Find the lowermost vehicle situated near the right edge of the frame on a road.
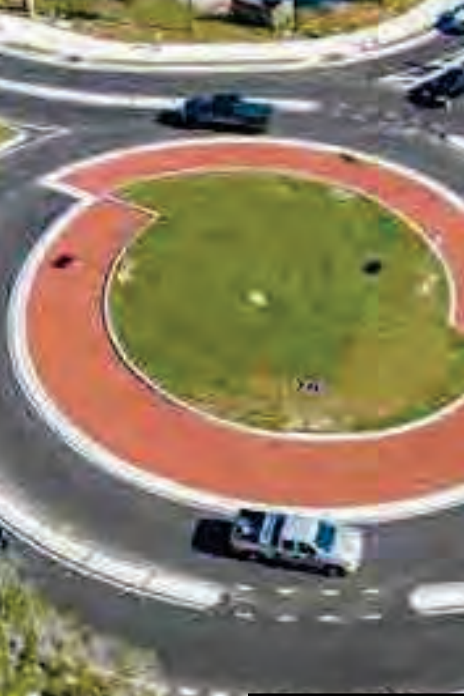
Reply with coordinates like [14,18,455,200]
[409,62,464,104]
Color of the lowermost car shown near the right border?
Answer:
black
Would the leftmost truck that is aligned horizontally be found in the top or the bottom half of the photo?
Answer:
top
